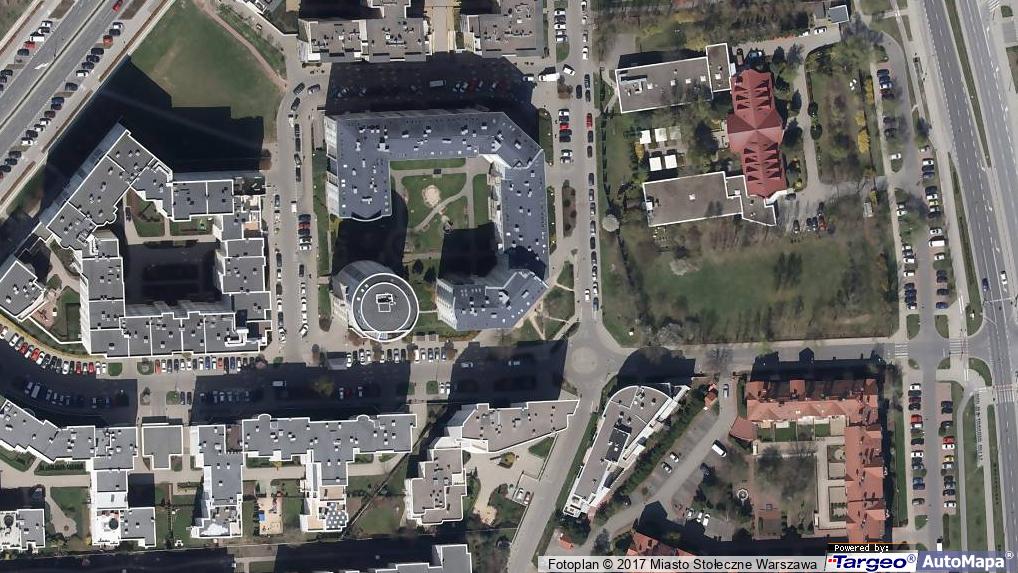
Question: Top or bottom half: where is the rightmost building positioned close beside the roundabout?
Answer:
bottom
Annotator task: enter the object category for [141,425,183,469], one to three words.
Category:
building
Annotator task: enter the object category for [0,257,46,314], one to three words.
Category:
building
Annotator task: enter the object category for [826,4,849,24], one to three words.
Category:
shed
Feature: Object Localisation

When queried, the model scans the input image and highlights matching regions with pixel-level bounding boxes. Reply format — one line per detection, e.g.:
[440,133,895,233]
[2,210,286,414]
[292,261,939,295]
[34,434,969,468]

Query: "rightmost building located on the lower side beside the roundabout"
[560,383,690,517]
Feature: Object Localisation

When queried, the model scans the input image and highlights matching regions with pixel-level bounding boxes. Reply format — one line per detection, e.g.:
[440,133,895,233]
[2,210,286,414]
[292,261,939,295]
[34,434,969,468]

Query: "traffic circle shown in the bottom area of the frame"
[565,339,606,381]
